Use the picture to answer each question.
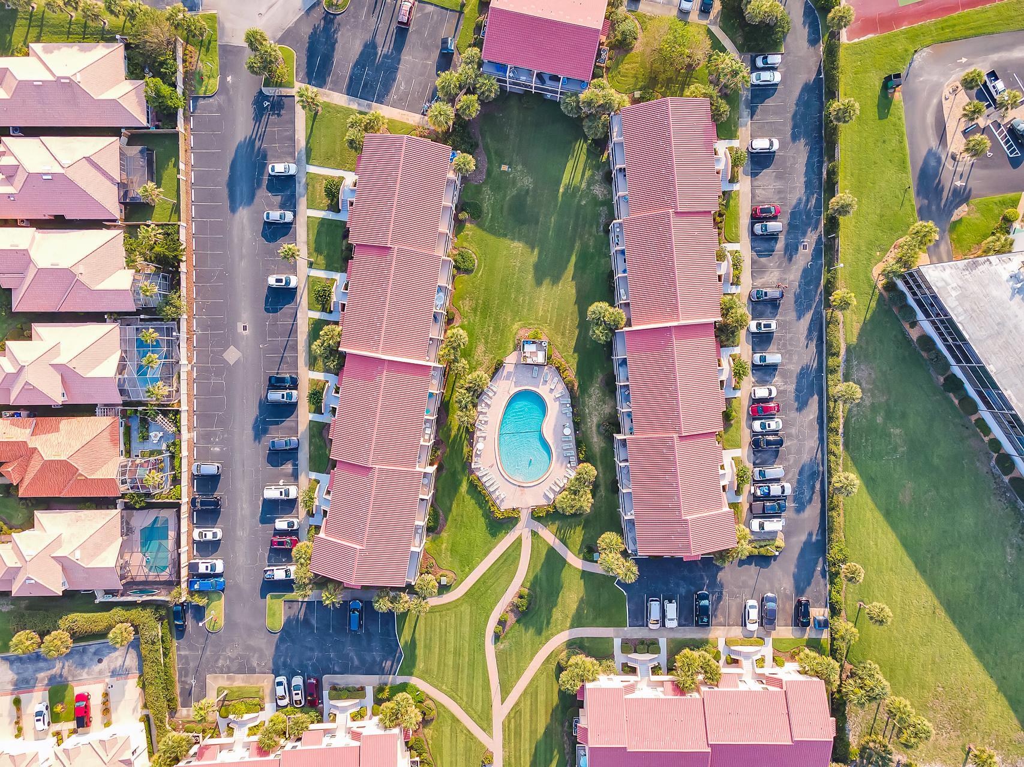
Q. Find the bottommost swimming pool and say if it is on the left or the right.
left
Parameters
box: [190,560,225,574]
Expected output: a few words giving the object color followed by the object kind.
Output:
white vehicle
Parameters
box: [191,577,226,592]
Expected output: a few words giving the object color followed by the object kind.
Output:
blue vehicle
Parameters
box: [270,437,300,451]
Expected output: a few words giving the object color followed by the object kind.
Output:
blue car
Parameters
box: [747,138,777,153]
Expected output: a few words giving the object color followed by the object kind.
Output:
white car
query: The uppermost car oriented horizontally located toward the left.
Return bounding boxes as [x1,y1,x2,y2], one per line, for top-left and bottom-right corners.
[268,163,299,177]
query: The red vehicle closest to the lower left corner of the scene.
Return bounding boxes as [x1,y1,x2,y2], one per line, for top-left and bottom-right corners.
[75,691,93,724]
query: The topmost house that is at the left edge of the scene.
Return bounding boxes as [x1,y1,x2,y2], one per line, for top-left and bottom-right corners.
[0,42,152,130]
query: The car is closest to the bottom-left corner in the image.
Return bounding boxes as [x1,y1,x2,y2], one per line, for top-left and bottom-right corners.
[34,701,53,732]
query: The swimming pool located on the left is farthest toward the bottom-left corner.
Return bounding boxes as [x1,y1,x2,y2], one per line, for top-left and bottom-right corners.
[139,516,169,573]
